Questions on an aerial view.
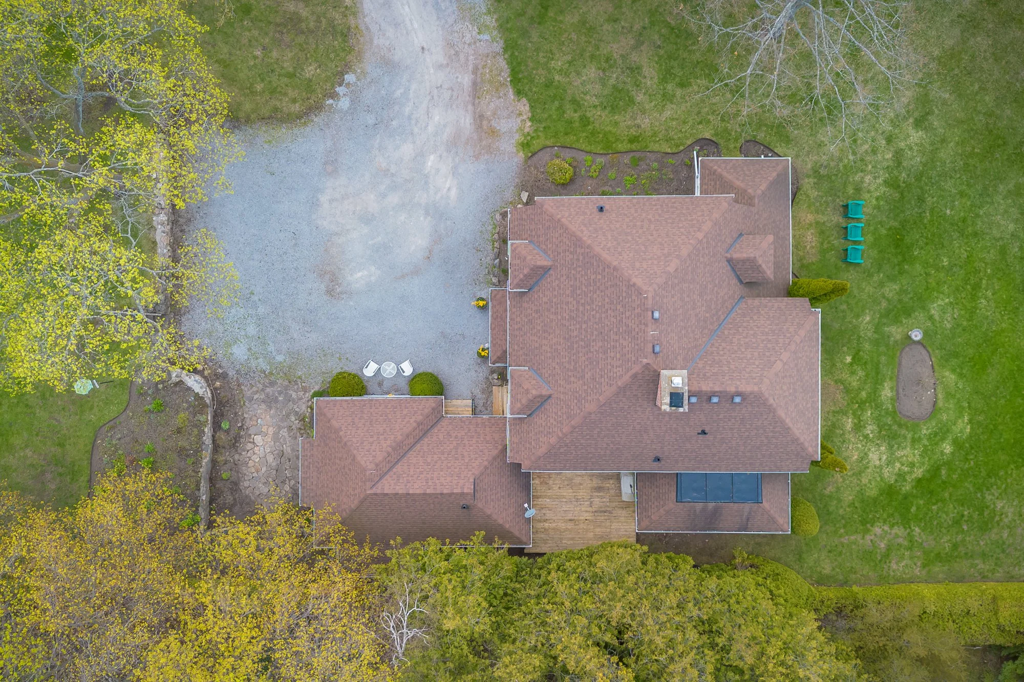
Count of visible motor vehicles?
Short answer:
0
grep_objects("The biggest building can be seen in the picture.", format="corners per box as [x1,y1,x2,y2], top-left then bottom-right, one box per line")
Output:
[489,151,823,533]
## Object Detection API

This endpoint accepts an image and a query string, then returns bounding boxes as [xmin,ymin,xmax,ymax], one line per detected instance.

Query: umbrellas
[78,378,97,395]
